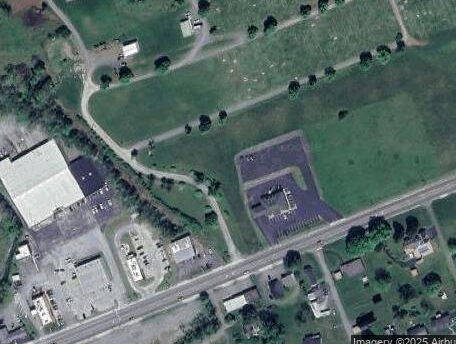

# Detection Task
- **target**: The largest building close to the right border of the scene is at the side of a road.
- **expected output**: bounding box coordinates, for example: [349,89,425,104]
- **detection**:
[403,228,438,258]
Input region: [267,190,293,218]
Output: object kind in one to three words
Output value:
building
